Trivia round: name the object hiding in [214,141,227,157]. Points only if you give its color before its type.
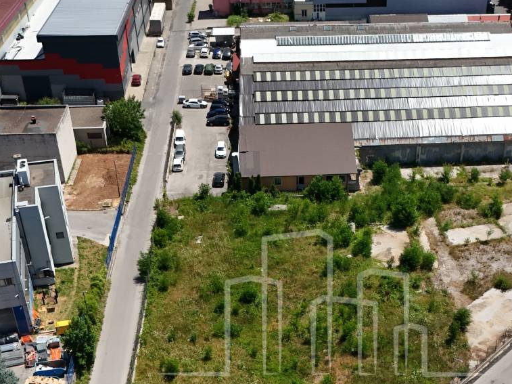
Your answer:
white vehicle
